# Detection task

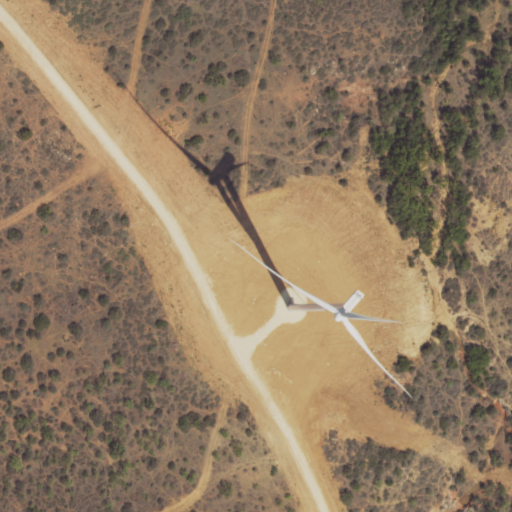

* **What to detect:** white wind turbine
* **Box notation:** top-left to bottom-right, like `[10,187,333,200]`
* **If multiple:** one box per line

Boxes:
[234,242,410,398]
